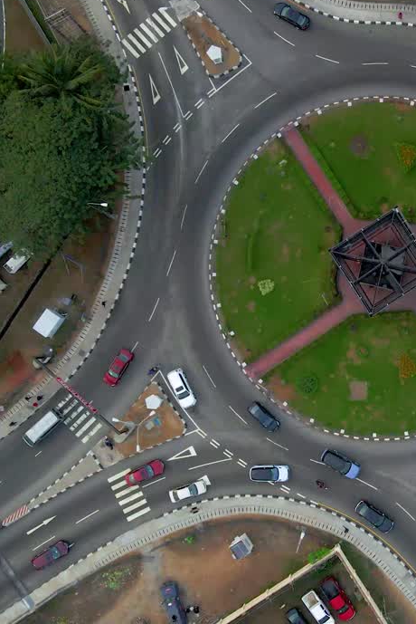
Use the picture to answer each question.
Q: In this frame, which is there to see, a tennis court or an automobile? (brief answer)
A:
automobile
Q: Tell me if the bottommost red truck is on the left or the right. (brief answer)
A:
right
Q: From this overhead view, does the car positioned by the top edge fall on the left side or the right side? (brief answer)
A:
right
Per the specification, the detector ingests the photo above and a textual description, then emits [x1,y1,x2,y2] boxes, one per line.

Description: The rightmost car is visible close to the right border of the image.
[353,499,396,532]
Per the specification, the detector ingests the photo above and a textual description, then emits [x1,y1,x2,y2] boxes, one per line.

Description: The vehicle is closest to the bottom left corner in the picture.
[28,539,71,572]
